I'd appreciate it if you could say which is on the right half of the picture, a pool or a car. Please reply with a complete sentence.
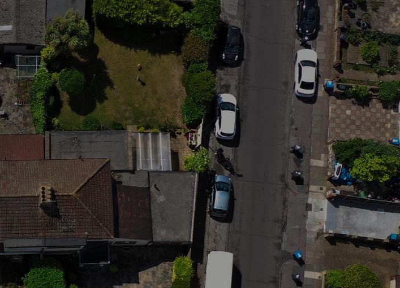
You can see a car on the right half of the picture.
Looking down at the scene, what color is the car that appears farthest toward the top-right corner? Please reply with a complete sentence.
The color of the car that appears farthest toward the top-right corner is black.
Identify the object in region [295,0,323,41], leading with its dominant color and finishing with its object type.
black car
